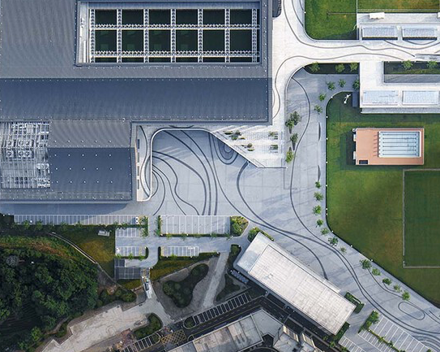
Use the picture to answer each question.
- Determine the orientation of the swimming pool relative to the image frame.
horizontally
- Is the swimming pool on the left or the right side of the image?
right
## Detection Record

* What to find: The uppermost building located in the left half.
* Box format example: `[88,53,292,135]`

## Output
[0,0,273,202]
